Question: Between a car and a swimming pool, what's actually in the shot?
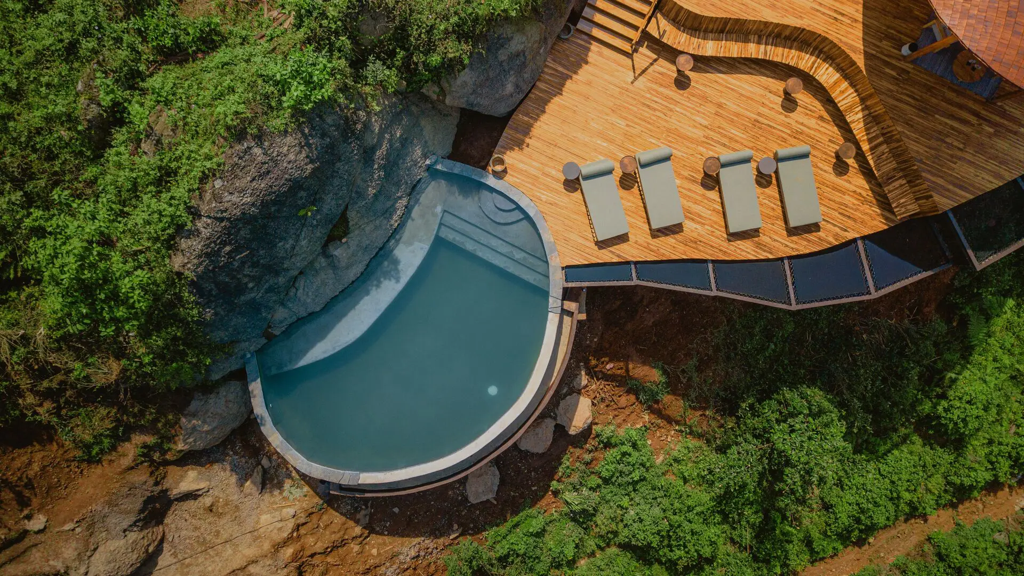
swimming pool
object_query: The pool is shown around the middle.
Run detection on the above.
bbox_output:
[245,155,582,500]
